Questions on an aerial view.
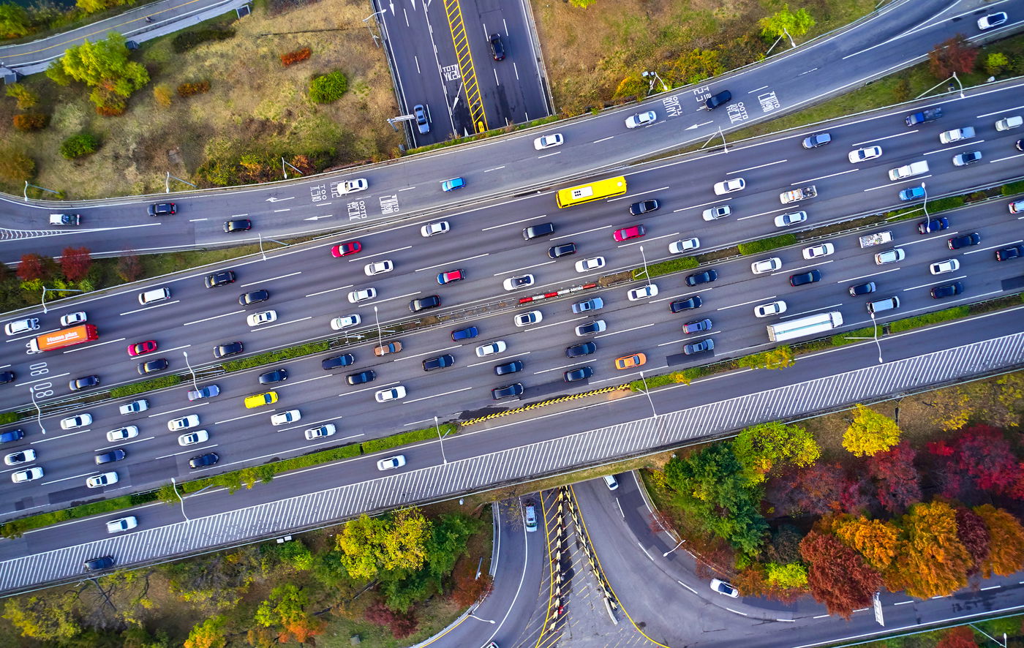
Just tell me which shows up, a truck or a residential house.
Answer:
truck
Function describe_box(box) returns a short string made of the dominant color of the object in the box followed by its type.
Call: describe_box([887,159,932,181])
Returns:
white truck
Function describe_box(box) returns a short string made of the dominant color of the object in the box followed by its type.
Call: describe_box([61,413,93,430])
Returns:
white car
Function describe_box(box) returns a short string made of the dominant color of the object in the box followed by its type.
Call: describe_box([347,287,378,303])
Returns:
white car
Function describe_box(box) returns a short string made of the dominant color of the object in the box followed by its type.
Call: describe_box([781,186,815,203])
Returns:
white vehicle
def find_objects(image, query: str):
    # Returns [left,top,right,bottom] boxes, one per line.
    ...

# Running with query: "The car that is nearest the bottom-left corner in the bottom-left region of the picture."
[84,554,115,572]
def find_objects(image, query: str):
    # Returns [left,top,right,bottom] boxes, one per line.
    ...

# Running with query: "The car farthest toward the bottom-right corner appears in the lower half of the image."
[710,578,739,597]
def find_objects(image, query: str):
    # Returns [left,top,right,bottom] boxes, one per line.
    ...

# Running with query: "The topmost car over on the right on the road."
[977,11,1008,30]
